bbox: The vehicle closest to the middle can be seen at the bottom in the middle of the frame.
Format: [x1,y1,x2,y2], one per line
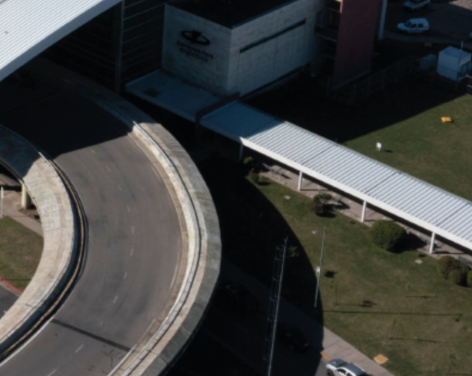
[218,261,261,303]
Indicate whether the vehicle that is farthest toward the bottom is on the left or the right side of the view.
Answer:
right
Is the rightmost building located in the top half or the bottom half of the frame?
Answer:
top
